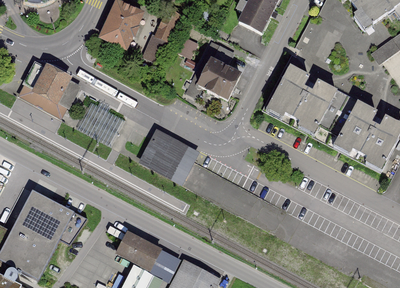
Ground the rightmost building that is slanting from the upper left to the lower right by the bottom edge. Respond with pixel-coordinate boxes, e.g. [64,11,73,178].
[116,232,181,284]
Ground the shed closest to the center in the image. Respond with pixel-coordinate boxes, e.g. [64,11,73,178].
[140,129,199,186]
